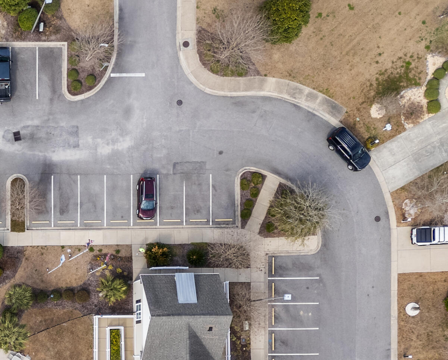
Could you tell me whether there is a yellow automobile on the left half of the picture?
No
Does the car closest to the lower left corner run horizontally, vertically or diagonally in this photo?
vertically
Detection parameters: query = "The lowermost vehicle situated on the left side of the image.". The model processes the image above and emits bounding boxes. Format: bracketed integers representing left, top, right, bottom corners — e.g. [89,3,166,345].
[136,177,159,222]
